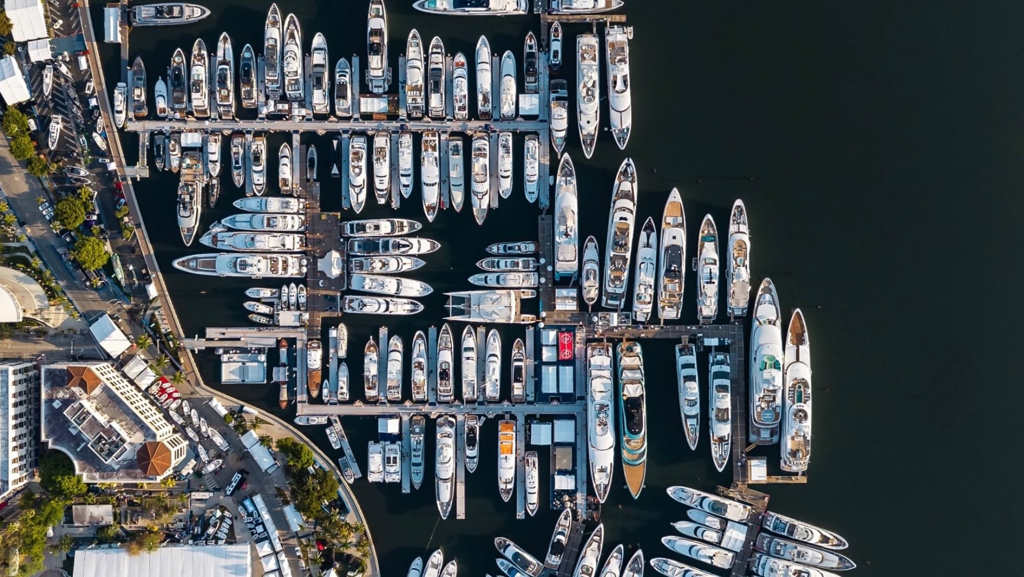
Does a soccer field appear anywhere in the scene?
No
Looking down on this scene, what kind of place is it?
port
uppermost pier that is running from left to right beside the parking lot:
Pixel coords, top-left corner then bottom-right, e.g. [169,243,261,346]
[127,120,550,132]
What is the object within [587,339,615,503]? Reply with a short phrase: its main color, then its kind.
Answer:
white boat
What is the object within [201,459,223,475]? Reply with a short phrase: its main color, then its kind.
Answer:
white boat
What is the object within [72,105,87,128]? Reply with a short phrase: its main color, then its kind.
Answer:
gray boat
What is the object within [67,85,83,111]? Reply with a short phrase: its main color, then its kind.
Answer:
gray boat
